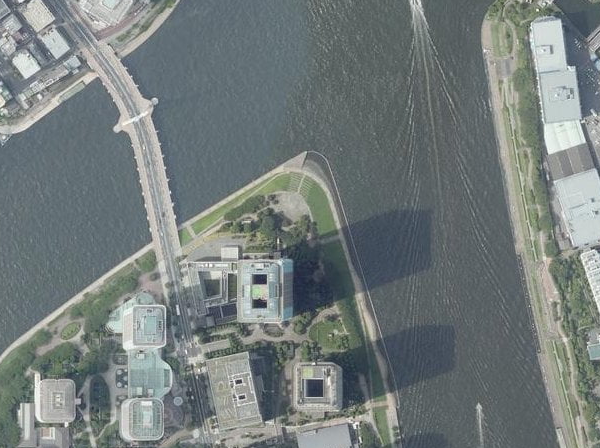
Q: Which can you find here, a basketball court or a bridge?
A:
bridge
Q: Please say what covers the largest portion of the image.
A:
water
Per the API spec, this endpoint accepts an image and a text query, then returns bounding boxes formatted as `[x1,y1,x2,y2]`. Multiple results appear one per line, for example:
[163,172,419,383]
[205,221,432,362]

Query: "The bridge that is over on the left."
[84,37,180,246]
